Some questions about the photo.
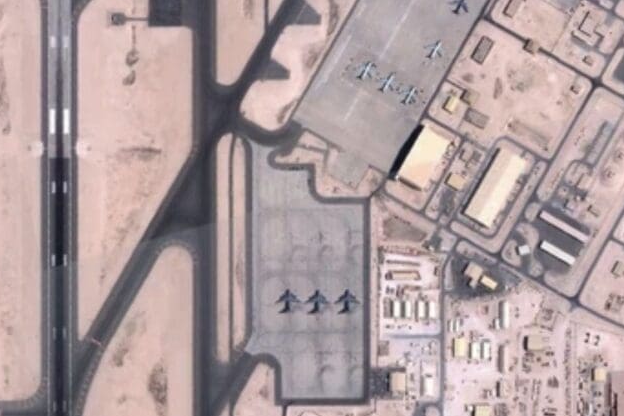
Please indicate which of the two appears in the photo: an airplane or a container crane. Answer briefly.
airplane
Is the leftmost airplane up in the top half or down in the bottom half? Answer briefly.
bottom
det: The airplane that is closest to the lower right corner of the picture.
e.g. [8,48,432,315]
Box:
[336,289,361,315]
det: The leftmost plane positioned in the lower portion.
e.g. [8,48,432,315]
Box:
[277,289,301,315]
